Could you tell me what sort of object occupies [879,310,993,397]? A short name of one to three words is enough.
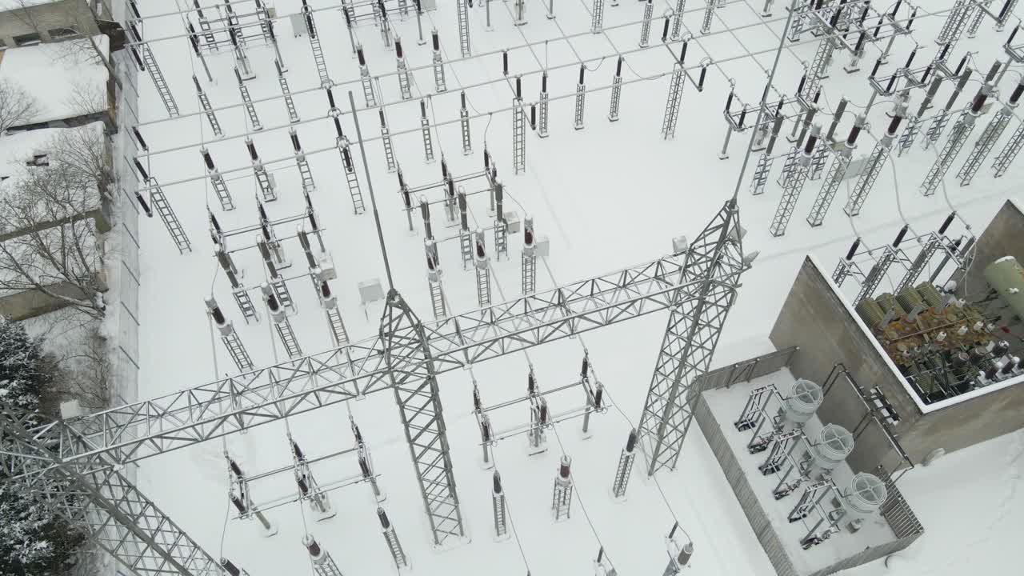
storage tank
